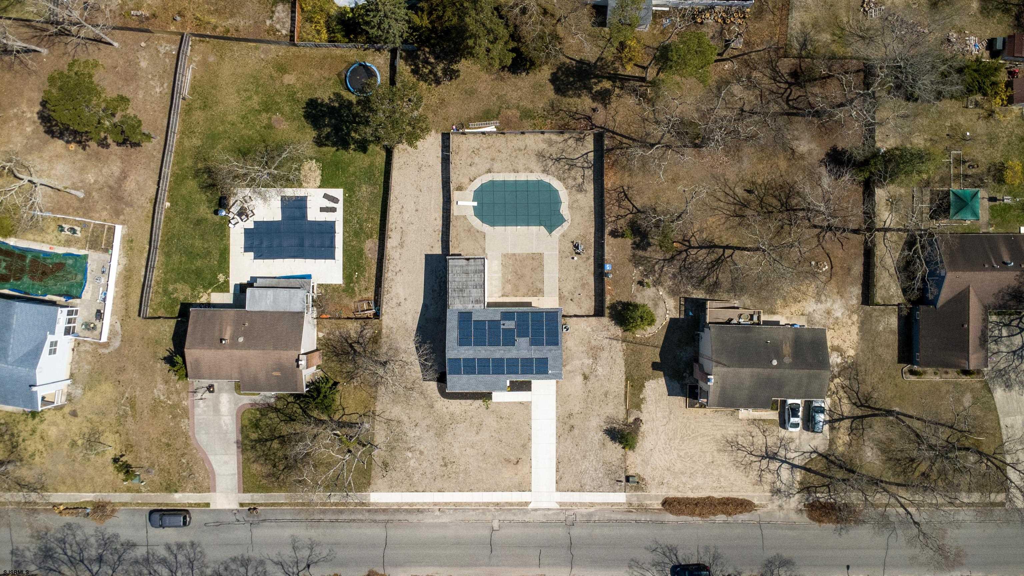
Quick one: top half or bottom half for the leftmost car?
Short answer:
bottom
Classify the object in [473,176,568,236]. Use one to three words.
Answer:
swimming pool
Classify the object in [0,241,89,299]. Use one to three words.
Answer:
swimming pool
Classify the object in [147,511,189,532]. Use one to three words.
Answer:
car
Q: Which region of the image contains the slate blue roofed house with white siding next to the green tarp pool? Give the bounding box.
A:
[0,287,80,417]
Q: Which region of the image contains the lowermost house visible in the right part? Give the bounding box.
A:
[693,326,830,409]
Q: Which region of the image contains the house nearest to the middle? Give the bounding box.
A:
[445,256,563,393]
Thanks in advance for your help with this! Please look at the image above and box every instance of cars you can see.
[671,564,711,576]
[785,400,805,432]
[809,398,829,432]
[147,511,189,532]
